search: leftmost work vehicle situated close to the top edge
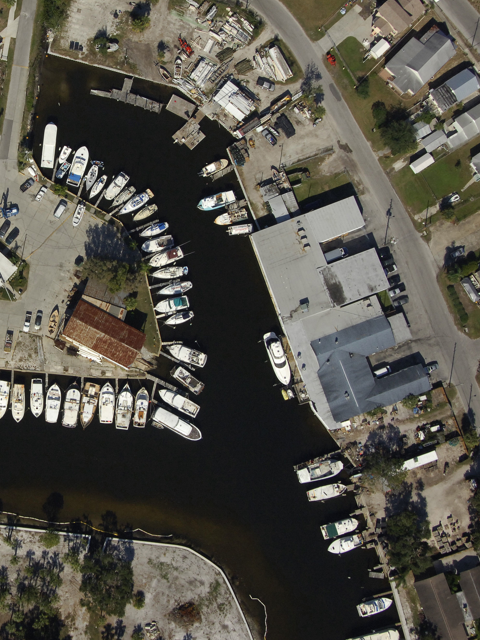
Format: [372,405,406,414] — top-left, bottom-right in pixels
[175,32,197,54]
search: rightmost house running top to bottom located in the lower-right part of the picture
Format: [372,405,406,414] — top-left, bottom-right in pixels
[454,567,480,622]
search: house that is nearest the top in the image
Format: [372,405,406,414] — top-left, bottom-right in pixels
[372,0,426,38]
